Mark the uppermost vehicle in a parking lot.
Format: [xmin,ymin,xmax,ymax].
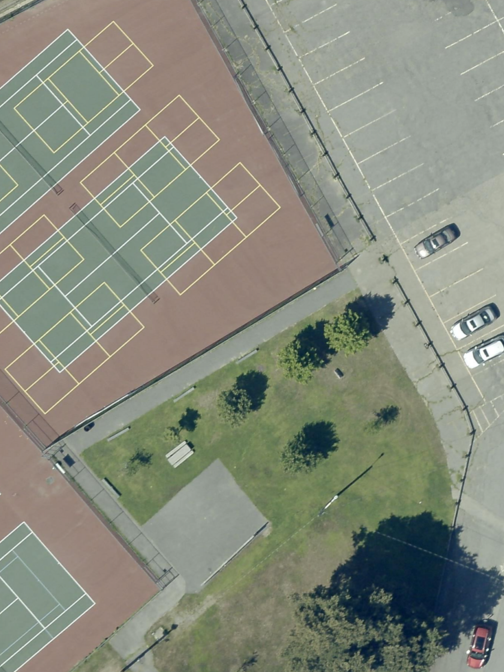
[414,224,460,259]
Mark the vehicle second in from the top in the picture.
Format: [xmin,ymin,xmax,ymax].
[452,304,497,338]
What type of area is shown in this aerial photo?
sports ground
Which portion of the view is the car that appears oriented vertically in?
bottom right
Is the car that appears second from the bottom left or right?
right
